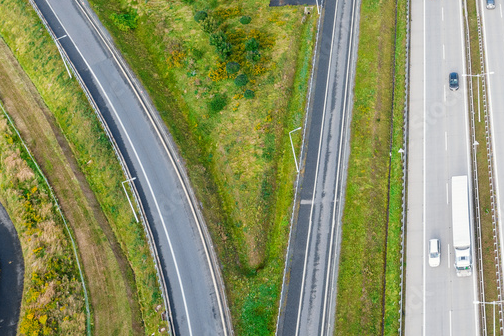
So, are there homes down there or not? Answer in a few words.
No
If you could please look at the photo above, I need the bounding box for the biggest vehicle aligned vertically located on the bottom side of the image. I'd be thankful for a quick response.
[451,176,474,277]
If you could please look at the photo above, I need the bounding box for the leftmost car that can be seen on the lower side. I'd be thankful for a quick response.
[427,238,441,267]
